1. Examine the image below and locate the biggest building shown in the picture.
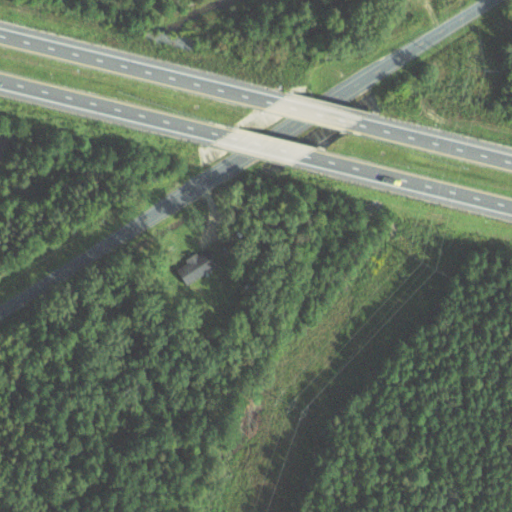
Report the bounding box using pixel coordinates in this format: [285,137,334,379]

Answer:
[178,254,214,286]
